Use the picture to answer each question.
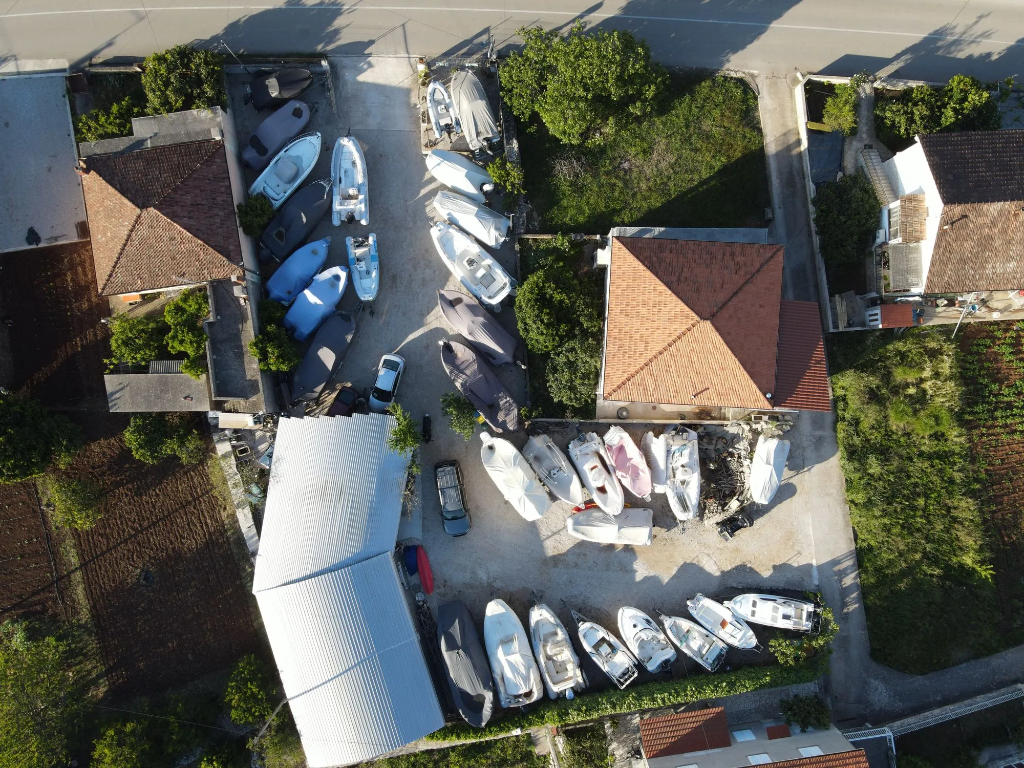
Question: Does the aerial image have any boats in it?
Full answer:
Yes, the photo shows a boat.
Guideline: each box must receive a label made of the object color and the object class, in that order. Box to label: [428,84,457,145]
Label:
white boat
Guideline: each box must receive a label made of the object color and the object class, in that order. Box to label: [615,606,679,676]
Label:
white boat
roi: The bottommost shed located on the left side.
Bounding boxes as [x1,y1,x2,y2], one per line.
[254,413,446,768]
